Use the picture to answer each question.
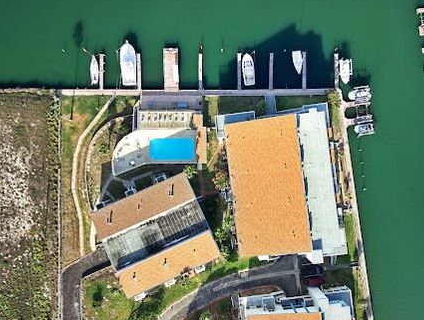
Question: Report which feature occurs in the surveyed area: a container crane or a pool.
pool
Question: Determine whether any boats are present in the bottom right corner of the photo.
No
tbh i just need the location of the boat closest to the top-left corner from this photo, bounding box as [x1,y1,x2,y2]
[82,54,100,85]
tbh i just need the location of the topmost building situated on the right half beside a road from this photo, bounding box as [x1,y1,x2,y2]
[215,101,349,267]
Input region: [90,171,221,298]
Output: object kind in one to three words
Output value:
building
